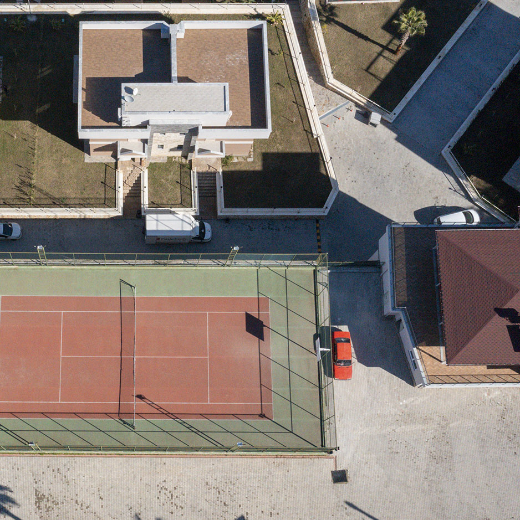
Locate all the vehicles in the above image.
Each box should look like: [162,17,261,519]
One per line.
[435,208,481,223]
[334,329,358,380]
[144,215,208,245]
[0,218,22,241]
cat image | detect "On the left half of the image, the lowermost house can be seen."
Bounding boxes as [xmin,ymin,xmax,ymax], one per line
[75,17,271,164]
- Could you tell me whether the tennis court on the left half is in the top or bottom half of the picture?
bottom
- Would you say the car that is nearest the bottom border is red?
Yes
